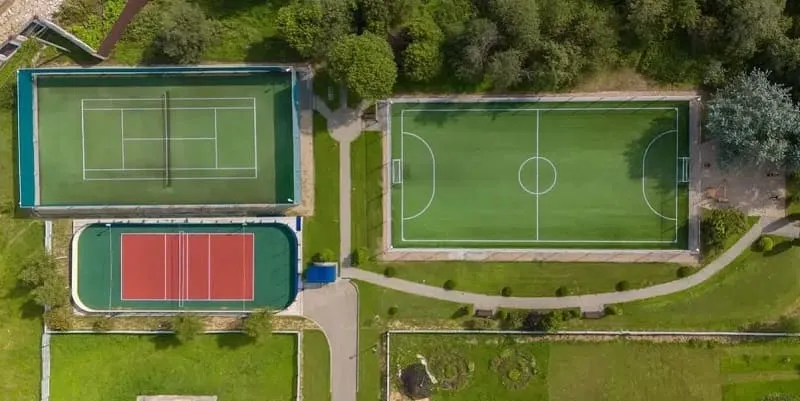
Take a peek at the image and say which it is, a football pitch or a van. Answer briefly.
football pitch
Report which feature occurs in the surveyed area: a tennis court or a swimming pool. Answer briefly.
tennis court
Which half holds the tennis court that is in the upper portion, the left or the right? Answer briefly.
left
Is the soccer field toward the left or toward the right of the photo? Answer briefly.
right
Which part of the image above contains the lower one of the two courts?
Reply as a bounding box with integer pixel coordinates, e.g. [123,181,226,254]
[73,217,303,318]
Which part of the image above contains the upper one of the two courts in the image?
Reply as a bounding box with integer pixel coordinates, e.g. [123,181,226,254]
[34,72,295,208]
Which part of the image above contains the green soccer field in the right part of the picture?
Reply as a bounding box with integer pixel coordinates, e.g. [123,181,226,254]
[377,93,700,262]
